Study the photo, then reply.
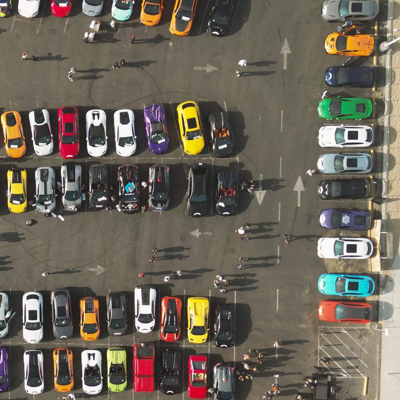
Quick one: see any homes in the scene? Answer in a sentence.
No, no home is visible in the scene.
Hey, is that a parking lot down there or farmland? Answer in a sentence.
The area seen from above is a parking lot.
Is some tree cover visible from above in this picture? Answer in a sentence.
No, tree cover can't be seen anywhere here.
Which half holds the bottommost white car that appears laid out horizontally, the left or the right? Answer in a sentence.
You can find the bottommost white car that appears laid out horizontally on the right side of the picture.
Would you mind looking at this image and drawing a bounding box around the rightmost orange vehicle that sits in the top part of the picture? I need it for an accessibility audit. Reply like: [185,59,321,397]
[325,33,375,56]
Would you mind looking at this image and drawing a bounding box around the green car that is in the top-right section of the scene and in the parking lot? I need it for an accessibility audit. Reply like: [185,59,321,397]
[321,96,369,119]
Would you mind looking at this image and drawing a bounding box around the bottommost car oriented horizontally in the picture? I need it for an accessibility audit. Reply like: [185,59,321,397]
[318,300,373,324]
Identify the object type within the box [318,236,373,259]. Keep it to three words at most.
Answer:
car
